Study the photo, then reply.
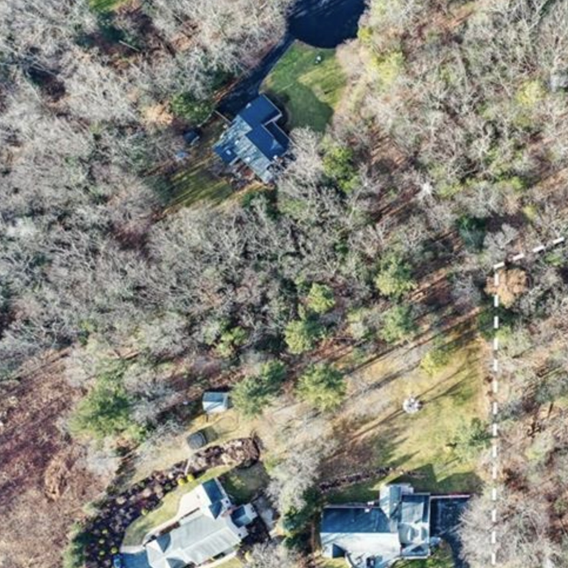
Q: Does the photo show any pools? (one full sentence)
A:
No, there appears to be no pool in this shot.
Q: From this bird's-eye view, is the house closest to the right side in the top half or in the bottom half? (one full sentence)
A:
The bottom half of the photo is where the house closest to the right side is.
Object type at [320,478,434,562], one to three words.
house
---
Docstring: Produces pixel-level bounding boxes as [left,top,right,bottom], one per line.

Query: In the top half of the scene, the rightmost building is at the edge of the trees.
[213,96,296,181]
